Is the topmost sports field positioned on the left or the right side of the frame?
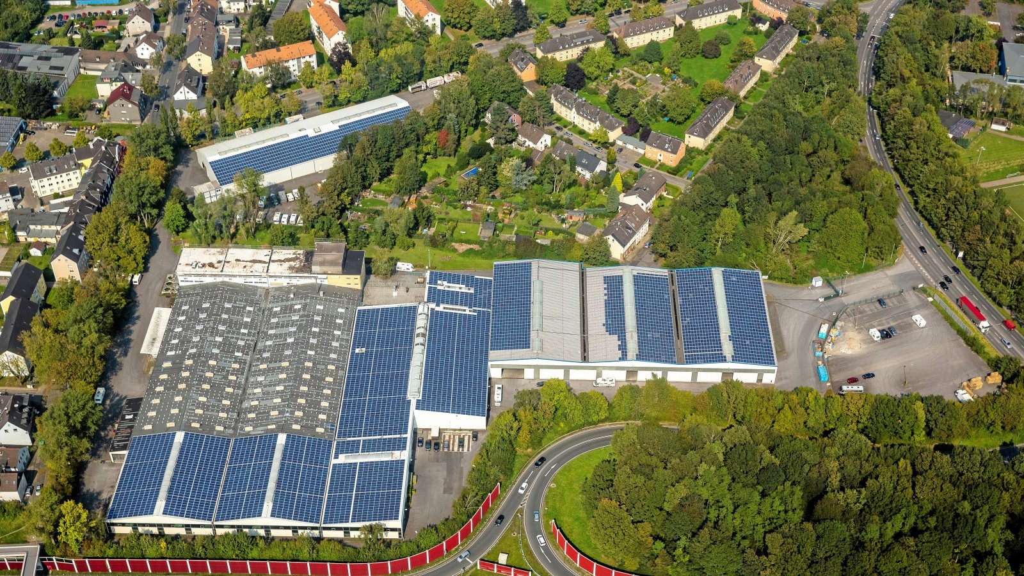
right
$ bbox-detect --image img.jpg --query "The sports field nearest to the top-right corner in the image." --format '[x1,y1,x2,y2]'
[955,128,1024,182]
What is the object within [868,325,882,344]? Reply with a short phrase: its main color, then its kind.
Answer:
white camper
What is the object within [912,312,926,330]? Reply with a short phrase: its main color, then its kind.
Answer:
white camper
